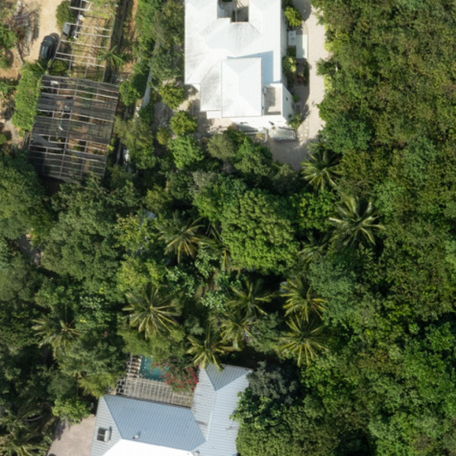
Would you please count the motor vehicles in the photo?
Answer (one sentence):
The picture shows just 1 motor vehicle.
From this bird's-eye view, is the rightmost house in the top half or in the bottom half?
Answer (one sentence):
Seen from above, the rightmost house lies in the top half of the view.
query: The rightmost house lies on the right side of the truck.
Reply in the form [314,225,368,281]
[185,0,302,143]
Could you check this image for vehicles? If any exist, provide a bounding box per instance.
[39,33,61,66]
